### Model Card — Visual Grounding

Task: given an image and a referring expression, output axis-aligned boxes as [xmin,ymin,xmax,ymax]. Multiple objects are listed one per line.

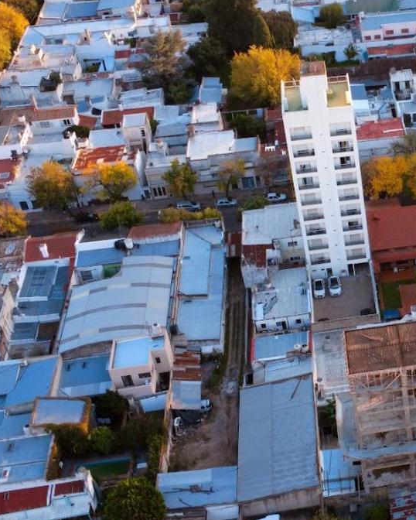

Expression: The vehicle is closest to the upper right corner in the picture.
[260,188,287,202]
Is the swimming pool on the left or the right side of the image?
left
